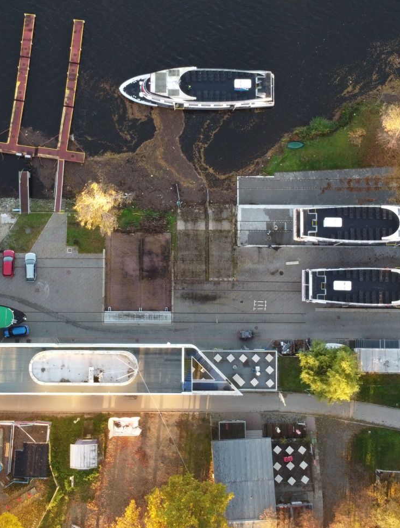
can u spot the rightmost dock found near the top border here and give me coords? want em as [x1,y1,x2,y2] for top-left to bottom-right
[36,19,85,167]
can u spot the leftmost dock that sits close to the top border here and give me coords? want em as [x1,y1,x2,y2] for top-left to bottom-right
[0,13,36,161]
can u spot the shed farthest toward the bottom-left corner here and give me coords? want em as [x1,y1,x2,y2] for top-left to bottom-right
[6,440,50,487]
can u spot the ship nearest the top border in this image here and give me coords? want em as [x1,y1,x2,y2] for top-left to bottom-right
[120,64,273,105]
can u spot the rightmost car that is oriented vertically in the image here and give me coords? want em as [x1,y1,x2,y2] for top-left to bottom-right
[22,251,37,283]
